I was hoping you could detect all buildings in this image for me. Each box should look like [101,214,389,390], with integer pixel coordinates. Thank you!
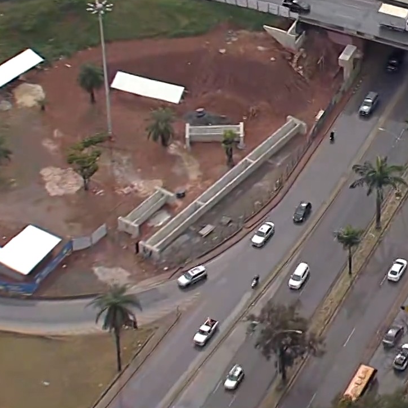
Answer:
[0,48,43,86]
[0,225,61,284]
[112,72,184,116]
